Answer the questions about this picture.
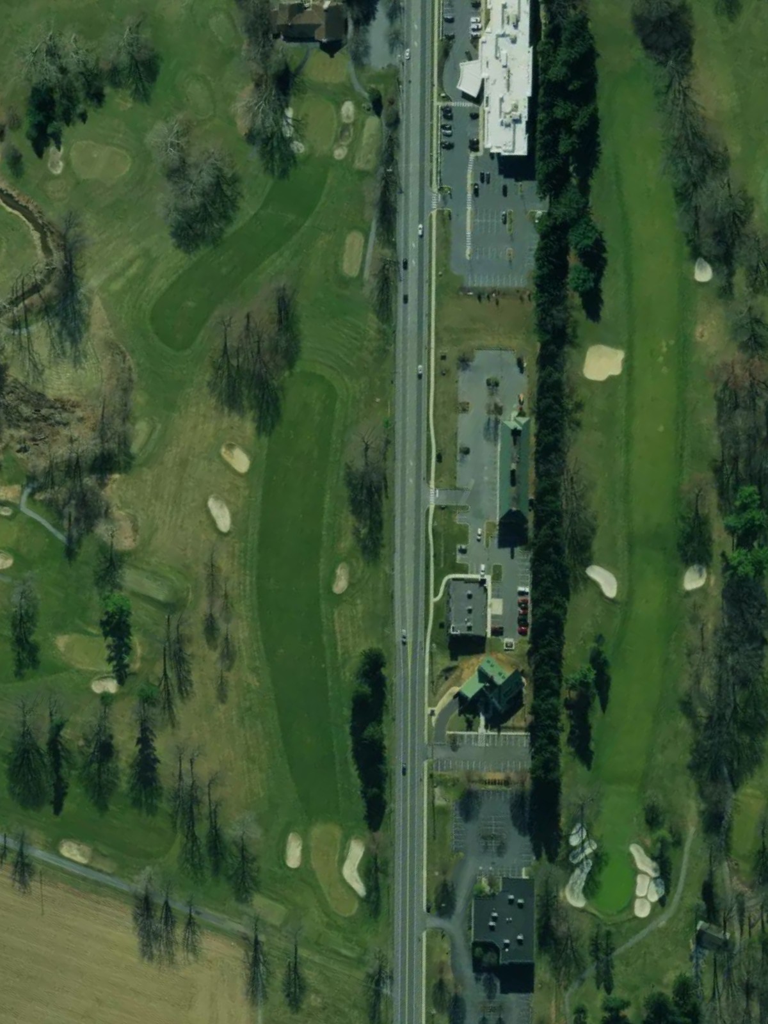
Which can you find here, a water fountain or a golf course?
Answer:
golf course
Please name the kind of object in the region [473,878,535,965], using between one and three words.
building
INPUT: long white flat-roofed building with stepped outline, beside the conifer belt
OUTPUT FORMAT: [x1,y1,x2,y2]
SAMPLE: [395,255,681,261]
[457,0,534,155]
